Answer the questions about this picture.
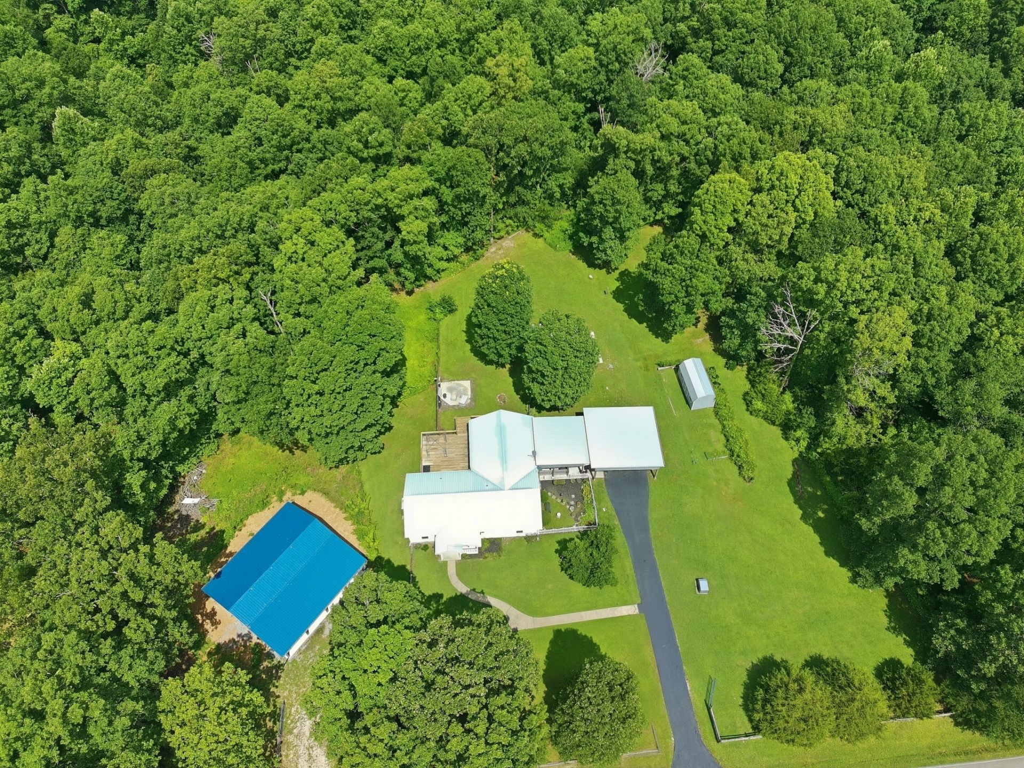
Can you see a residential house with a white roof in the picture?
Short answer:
Yes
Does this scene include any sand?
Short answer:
No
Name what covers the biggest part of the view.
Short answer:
trees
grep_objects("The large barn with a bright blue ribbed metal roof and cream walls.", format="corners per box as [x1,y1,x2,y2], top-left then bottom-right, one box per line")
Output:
[202,501,368,661]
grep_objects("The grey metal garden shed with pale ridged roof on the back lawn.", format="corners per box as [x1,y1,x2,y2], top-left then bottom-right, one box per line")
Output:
[678,355,719,410]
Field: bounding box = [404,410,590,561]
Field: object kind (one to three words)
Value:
house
